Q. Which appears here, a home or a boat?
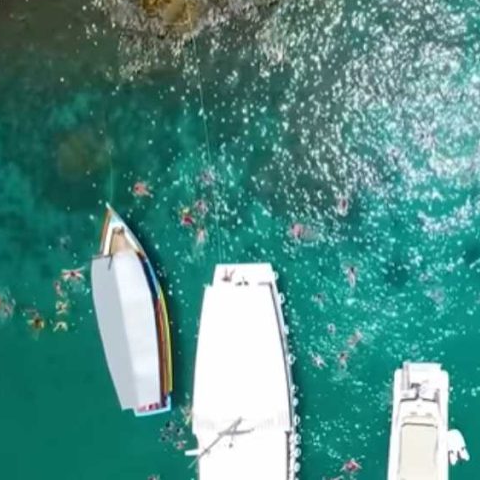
boat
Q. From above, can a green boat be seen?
No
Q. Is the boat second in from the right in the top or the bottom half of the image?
bottom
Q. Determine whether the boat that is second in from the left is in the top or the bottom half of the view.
bottom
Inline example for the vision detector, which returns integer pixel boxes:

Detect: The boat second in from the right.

[387,358,450,480]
